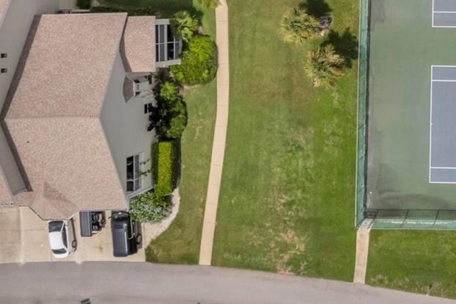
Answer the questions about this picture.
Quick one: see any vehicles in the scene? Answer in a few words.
Yes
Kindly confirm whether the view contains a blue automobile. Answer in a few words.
No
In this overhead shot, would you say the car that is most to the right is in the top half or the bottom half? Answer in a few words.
bottom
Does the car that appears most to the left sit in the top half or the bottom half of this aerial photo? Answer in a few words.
bottom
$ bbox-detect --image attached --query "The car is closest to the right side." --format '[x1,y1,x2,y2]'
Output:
[110,205,141,257]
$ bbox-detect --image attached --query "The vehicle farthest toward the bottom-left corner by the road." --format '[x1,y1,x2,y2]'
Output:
[47,215,77,258]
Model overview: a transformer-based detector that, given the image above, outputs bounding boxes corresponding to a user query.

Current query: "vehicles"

[47,215,77,258]
[110,205,141,257]
[79,211,104,237]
